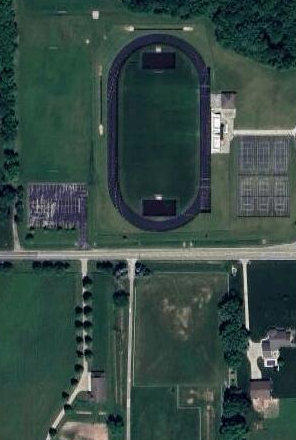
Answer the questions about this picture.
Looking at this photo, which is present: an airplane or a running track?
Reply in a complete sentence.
It is a running track that can be seen here.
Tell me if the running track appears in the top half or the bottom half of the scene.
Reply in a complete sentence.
The top half of the photo is where the running track is.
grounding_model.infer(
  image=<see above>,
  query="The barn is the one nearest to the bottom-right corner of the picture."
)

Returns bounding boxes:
[250,380,272,398]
